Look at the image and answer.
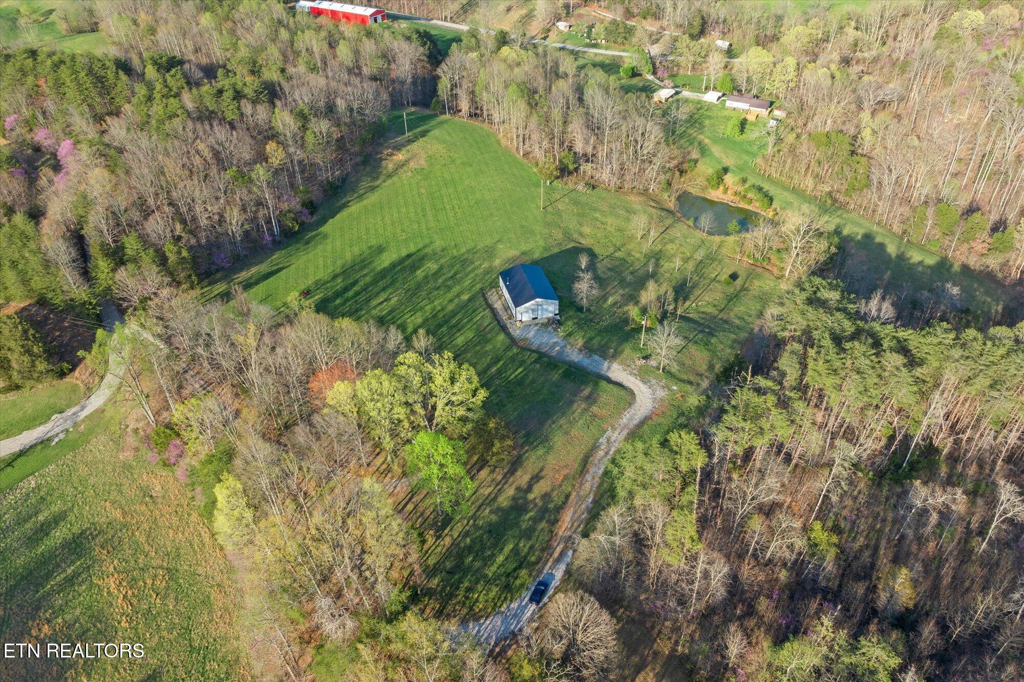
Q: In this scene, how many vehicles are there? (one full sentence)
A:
There is 1 vehicle in the image.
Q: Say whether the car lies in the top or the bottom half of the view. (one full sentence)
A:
You can find the car in the bottom half.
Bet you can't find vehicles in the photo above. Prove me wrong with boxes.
[529,578,549,607]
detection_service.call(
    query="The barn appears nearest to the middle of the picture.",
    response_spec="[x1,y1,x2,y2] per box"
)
[499,266,560,322]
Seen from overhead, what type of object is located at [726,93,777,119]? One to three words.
house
